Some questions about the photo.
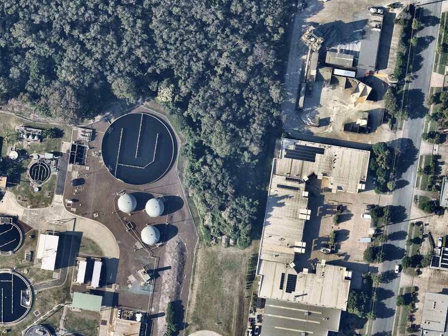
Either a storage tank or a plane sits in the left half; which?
storage tank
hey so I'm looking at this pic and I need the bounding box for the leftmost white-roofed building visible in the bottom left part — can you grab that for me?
[34,234,59,270]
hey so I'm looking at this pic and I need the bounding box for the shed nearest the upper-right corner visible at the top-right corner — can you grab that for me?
[354,15,383,71]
